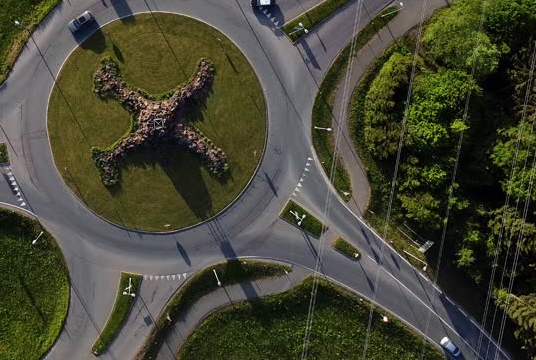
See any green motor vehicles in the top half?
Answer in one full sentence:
No, I see no green motor vehicle in the top half.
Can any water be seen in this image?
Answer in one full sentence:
No, there's no water in this view.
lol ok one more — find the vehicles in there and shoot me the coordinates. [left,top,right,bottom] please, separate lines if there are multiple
[438,334,462,360]
[67,9,96,34]
[251,0,276,9]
